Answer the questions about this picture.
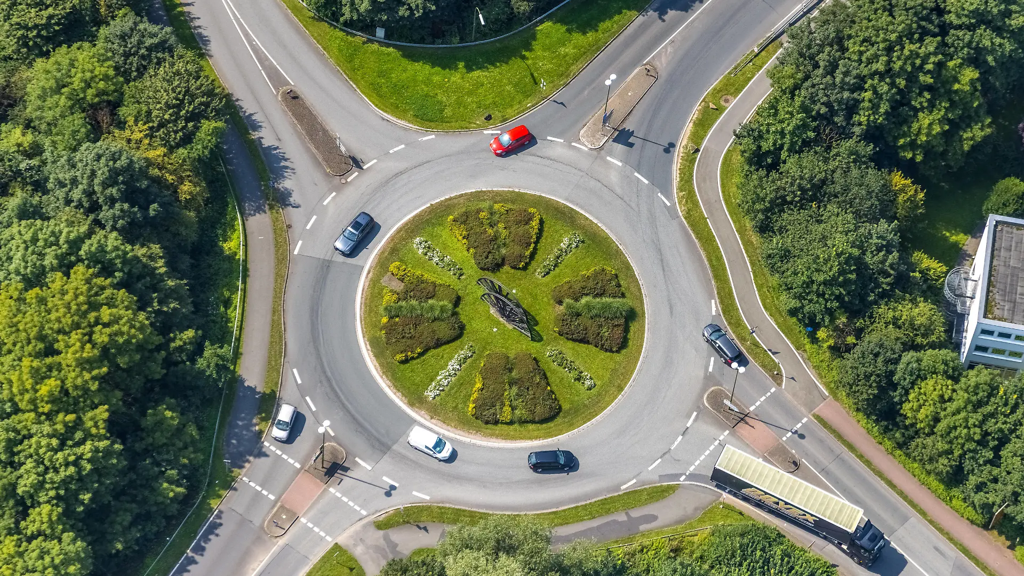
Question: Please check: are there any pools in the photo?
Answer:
No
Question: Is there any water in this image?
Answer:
No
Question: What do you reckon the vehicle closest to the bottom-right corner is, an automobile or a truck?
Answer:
truck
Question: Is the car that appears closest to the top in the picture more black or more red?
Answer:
red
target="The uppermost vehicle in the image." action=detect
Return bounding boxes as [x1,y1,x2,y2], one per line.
[491,123,532,156]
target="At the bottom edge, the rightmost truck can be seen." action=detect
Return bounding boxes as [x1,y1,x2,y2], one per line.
[710,444,888,569]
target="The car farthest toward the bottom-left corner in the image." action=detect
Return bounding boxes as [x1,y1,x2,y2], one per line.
[268,402,301,443]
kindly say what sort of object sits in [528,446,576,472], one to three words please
car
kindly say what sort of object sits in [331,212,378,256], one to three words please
car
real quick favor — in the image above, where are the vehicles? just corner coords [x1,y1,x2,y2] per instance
[491,123,532,156]
[268,402,301,443]
[710,444,888,569]
[528,446,576,472]
[331,212,378,256]
[406,423,455,463]
[701,322,745,367]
